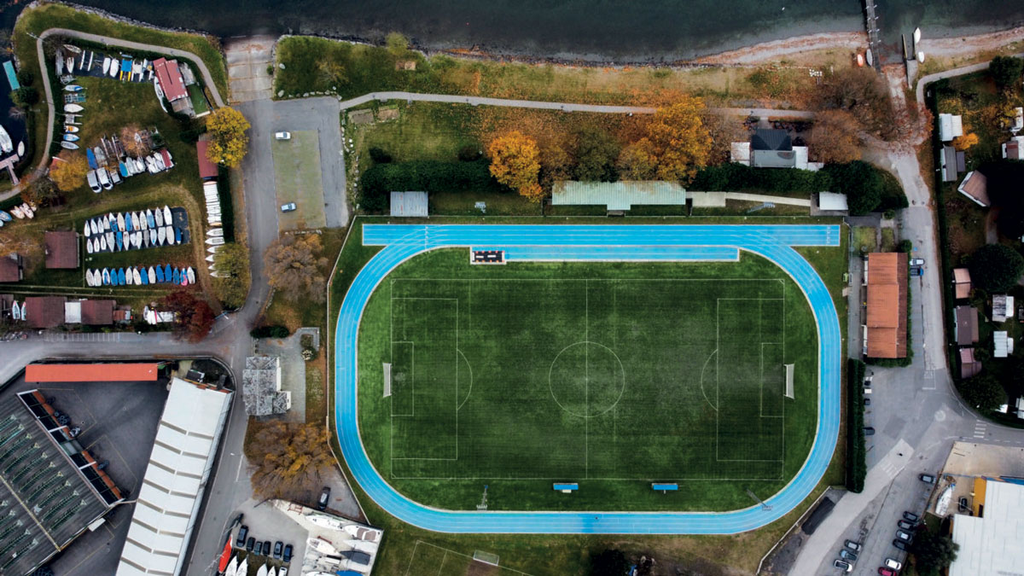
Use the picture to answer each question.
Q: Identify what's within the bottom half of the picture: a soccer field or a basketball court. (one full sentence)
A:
You can see a soccer field within the bottom half of the picture.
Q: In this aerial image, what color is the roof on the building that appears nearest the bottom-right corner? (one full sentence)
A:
The roof of the building that appears nearest the bottom-right corner is white.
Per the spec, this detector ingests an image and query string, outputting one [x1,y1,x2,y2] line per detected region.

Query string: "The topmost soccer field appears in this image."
[391,278,785,480]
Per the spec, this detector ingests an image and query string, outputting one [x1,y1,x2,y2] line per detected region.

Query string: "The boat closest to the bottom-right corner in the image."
[934,484,951,515]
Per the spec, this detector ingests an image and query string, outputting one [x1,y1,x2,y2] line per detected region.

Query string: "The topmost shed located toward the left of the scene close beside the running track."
[390,192,428,216]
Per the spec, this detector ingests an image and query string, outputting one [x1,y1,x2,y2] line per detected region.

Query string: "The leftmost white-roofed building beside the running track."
[115,376,233,576]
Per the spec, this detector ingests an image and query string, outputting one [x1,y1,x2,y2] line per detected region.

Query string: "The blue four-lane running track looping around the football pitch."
[334,224,842,536]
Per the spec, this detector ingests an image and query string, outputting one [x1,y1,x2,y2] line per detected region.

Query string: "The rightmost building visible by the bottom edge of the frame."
[949,475,1024,576]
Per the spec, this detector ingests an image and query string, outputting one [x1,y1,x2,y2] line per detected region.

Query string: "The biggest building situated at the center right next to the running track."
[860,253,907,358]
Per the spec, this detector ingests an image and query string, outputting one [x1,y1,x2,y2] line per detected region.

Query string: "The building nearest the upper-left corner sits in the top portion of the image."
[153,57,191,102]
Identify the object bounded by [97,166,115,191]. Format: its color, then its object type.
white vehicle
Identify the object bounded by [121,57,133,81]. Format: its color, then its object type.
blue boat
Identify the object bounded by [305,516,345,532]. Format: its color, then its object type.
white boat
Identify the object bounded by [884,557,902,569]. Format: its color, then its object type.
white vehicle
